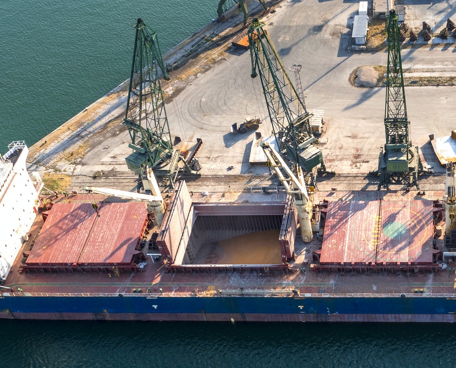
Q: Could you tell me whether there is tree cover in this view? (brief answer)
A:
No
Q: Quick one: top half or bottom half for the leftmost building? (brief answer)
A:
top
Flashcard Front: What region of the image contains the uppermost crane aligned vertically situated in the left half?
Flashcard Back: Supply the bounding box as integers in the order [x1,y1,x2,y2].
[122,12,197,193]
